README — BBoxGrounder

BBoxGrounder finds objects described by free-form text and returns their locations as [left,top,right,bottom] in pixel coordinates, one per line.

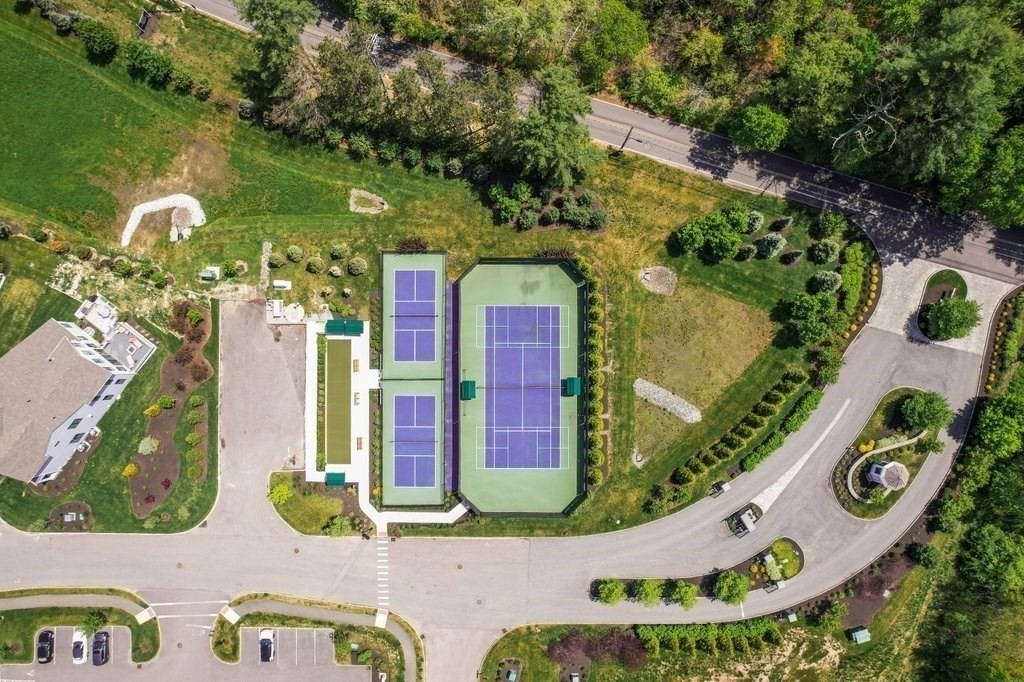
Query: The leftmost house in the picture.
[0,318,156,485]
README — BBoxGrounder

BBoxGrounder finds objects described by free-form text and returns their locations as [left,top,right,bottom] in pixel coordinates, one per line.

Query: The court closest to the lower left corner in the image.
[382,380,445,505]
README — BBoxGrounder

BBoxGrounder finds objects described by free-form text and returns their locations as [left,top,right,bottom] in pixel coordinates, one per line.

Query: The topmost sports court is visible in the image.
[382,252,445,379]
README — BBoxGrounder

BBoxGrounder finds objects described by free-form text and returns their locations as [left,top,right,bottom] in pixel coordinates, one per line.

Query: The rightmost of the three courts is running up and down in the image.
[460,259,586,514]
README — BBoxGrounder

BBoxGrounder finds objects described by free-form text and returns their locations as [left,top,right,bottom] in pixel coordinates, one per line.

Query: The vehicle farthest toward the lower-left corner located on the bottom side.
[37,629,56,664]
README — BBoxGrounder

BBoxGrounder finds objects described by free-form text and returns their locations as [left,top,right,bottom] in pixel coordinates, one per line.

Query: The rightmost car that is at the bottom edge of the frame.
[258,628,275,662]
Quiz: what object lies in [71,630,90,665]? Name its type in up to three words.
car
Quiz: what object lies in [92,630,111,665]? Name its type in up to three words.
car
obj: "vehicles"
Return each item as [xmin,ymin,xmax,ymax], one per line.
[92,630,111,665]
[37,629,56,664]
[71,630,90,665]
[258,628,275,662]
